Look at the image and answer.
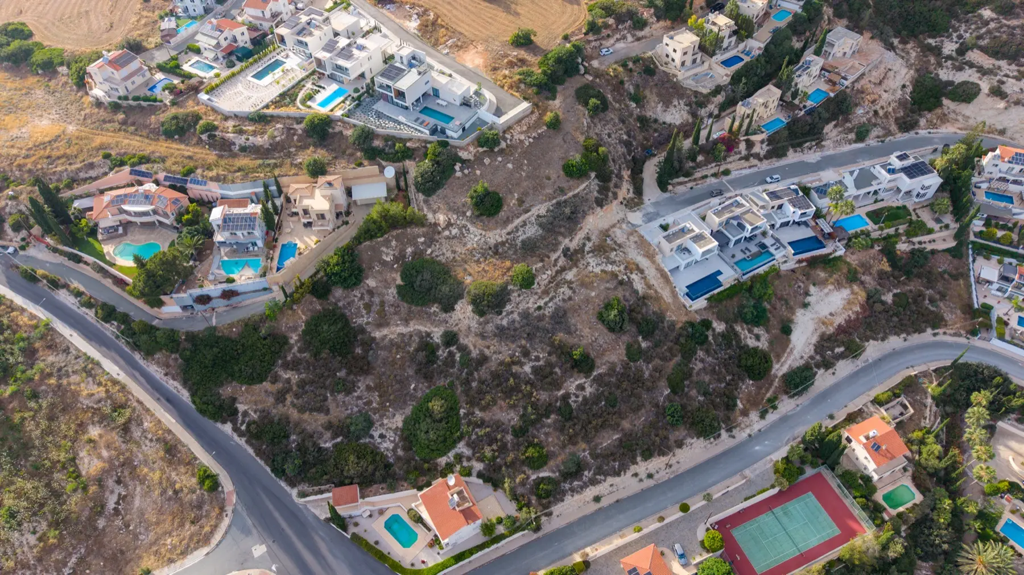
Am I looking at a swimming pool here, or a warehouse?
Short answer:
swimming pool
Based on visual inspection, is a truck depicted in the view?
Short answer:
No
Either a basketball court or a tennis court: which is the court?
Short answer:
tennis court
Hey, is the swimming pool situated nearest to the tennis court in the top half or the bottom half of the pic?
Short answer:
bottom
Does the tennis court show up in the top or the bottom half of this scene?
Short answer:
bottom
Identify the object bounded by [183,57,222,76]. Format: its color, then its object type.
white swimming pool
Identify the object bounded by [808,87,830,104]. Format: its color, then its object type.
blue swimming pool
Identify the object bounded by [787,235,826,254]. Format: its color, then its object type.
blue swimming pool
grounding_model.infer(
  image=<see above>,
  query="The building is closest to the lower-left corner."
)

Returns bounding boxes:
[332,484,362,512]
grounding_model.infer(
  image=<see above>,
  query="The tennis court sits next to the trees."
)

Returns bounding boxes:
[731,492,841,574]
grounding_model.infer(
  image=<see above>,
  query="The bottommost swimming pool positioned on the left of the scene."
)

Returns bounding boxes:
[383,513,419,550]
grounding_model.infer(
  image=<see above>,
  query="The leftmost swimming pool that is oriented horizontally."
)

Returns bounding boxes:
[110,240,165,263]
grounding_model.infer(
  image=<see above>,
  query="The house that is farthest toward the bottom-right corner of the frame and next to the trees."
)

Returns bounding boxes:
[845,413,911,480]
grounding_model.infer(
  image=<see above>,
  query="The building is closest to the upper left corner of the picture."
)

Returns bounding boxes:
[85,46,154,95]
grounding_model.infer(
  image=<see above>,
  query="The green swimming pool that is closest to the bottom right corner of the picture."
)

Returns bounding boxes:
[882,483,917,511]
